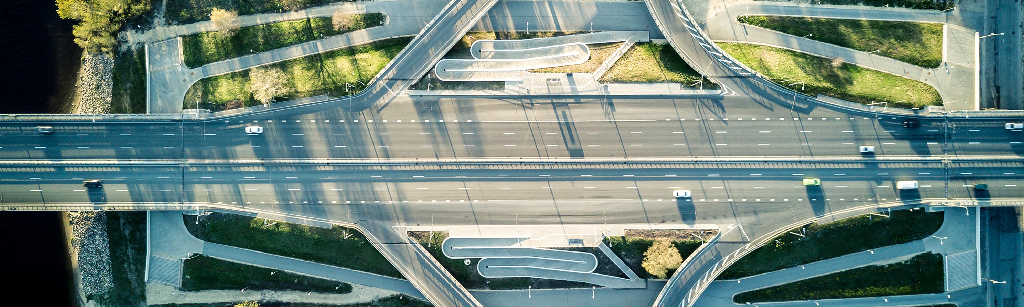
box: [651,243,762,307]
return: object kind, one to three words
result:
bridge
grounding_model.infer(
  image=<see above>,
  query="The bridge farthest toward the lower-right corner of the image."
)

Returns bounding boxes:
[940,111,1024,207]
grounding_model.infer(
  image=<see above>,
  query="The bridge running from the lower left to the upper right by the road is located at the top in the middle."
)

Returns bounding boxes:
[376,0,499,80]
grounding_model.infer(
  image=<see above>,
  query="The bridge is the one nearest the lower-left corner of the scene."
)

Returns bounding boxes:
[0,113,188,211]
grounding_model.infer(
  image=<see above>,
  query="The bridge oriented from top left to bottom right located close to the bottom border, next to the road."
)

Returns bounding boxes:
[372,242,484,307]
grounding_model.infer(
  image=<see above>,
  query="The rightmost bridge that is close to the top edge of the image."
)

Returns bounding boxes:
[644,0,757,78]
